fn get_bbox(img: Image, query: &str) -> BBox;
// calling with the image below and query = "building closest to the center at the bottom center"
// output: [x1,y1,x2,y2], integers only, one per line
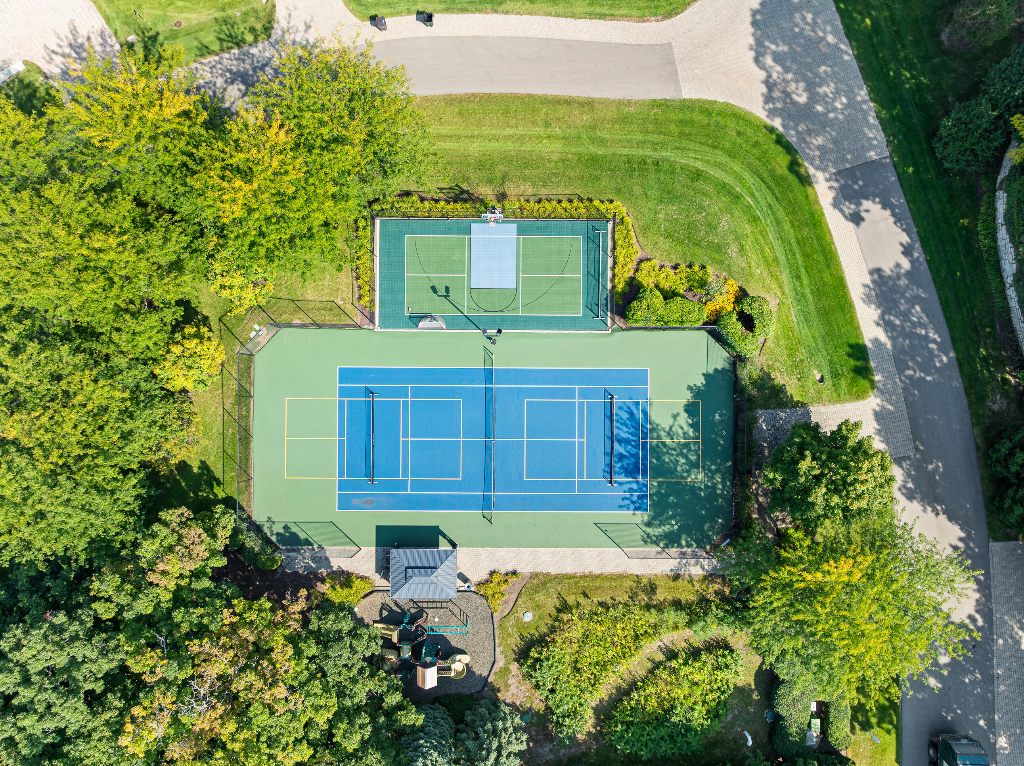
[390,542,459,599]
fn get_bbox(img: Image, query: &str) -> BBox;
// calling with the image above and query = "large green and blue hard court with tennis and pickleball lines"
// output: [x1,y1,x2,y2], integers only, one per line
[253,330,734,549]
